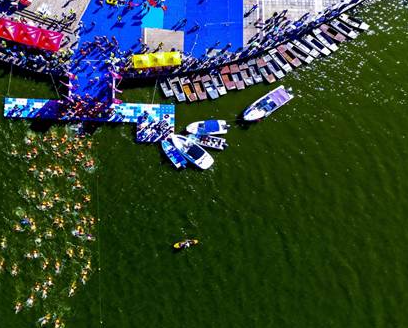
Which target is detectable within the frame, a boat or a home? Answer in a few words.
boat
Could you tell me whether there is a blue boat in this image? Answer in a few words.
Yes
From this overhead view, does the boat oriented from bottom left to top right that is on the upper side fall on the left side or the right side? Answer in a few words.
right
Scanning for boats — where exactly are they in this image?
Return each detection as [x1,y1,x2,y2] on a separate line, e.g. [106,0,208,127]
[160,79,173,97]
[169,77,185,102]
[231,63,245,90]
[249,59,264,83]
[240,63,255,86]
[330,17,357,40]
[191,77,206,100]
[278,43,301,67]
[304,32,330,55]
[287,39,312,63]
[179,76,195,101]
[211,70,227,95]
[222,65,236,90]
[270,47,292,73]
[265,53,285,78]
[242,85,292,119]
[203,74,218,98]
[313,27,338,51]
[295,35,319,58]
[321,22,345,44]
[172,135,213,169]
[257,55,275,81]
[185,121,230,135]
[192,133,228,150]
[162,140,183,168]
[173,236,199,250]
[340,11,368,31]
